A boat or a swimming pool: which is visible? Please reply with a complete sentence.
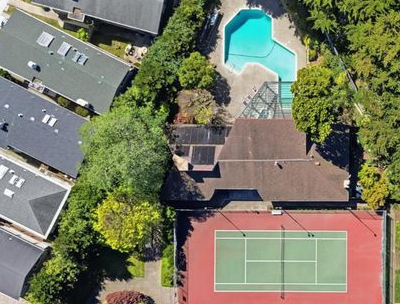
Visible in the photo is a swimming pool.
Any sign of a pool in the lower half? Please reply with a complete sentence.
No, no pool can be made out in the lower half.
